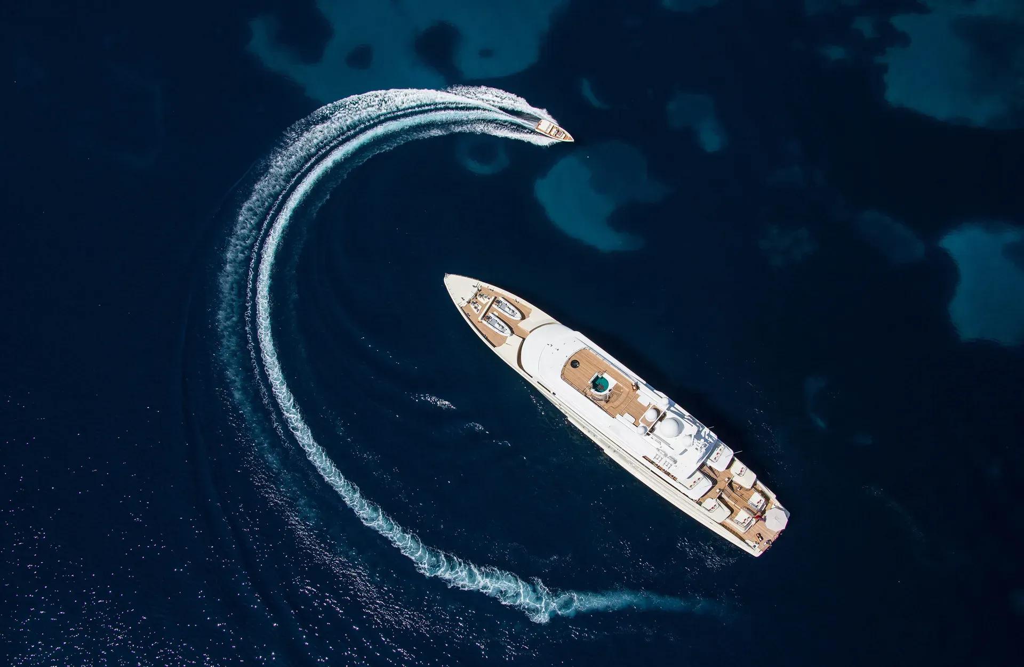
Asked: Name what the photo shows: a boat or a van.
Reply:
boat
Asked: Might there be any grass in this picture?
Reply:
No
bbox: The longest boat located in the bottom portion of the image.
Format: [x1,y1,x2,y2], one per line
[444,270,791,556]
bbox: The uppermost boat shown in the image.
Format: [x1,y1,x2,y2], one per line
[536,123,574,143]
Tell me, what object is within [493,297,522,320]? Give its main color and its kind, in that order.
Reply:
white boat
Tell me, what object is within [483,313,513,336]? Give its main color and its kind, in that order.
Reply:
white boat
